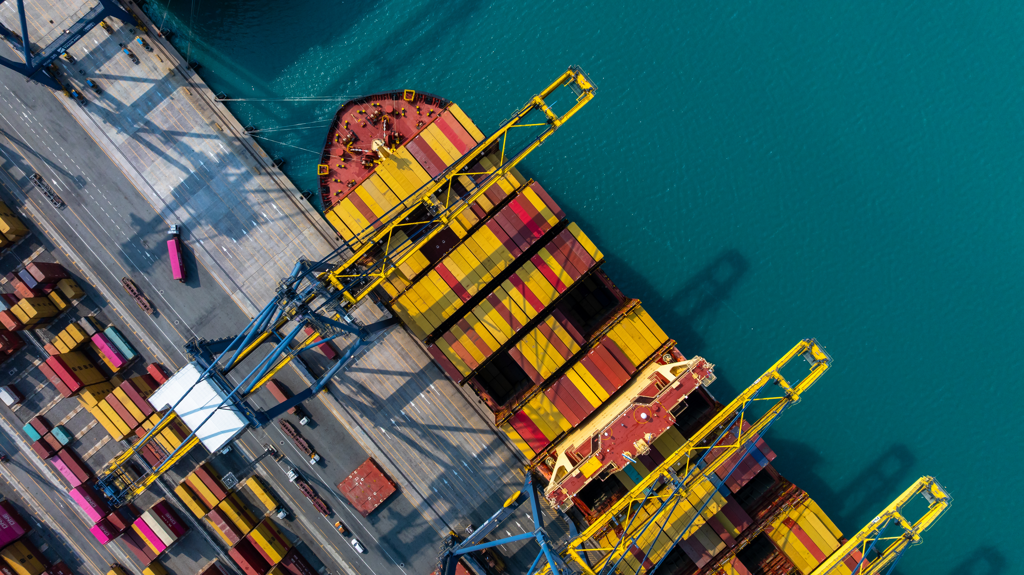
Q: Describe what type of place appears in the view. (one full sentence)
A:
What you see here is a port.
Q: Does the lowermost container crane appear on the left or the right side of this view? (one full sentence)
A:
The lowermost container crane sits on the right side.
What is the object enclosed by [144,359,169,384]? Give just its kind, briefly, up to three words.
shipping container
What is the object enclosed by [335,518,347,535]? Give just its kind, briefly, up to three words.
vehicle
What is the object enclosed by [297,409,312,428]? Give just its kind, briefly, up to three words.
vehicle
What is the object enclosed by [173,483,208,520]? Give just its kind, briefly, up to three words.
shipping container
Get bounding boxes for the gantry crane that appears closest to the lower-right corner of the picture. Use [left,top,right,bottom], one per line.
[796,465,961,575]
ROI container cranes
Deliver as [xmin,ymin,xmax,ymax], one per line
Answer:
[75,57,606,521]
[0,0,146,98]
[796,465,961,575]
[431,327,840,575]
